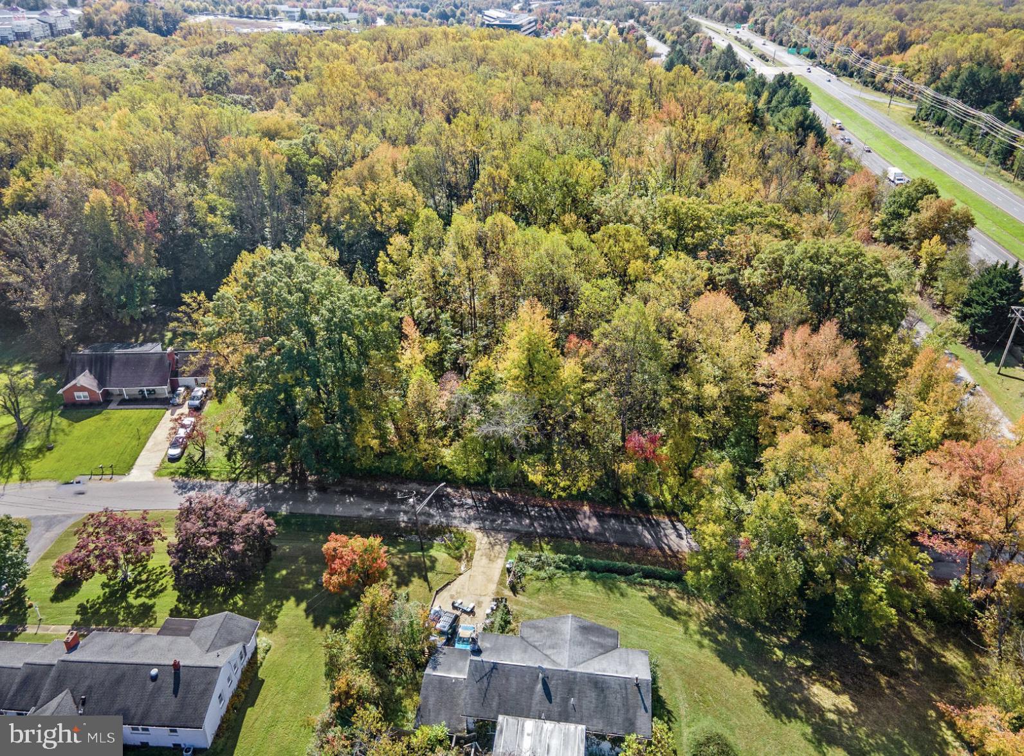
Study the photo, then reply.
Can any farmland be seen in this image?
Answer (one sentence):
No, no farmland is visible.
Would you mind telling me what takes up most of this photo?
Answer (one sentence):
What you mostly see from above here is trees.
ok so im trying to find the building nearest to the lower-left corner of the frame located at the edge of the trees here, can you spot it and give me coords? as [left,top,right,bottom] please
[0,606,255,756]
